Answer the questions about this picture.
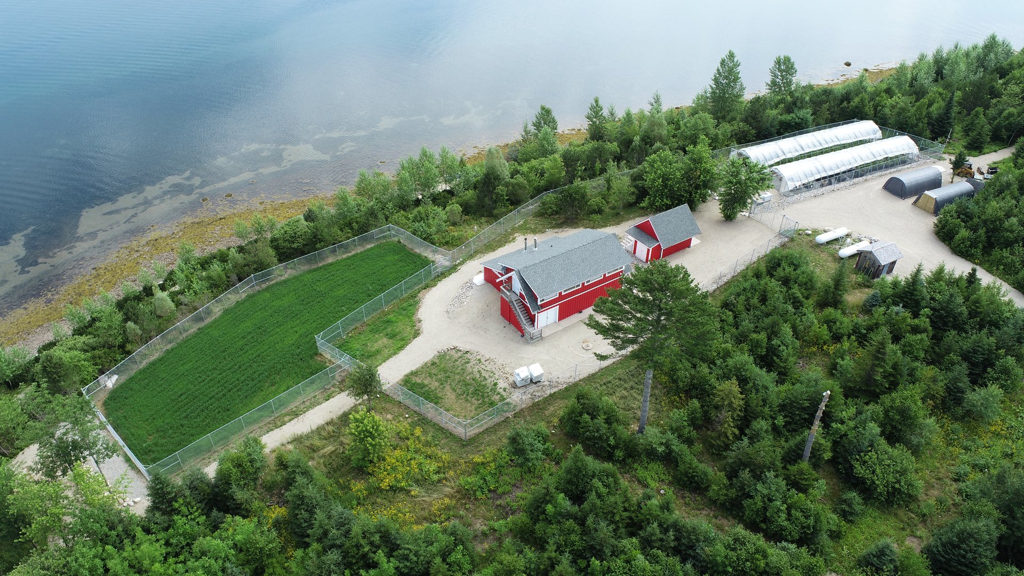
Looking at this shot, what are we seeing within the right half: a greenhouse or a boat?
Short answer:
greenhouse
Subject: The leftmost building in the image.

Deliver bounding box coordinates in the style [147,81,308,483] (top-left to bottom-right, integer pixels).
[479,227,633,342]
